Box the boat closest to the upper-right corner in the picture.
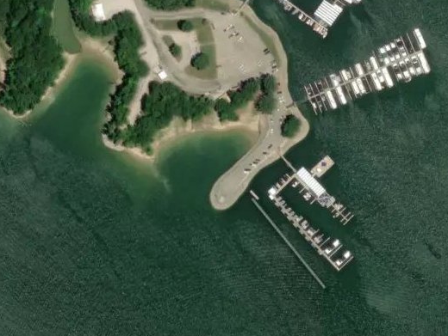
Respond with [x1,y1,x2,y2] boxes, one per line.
[415,28,427,48]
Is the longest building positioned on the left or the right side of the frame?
right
